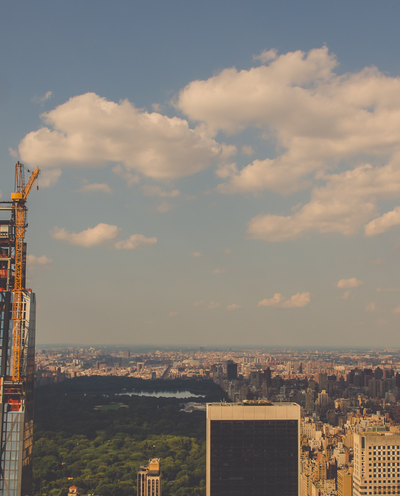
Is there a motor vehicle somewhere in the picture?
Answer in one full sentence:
No, there isn't any motor vehicle down there.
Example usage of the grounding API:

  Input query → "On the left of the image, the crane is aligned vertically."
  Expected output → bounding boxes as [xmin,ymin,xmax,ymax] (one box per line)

[11,162,40,382]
